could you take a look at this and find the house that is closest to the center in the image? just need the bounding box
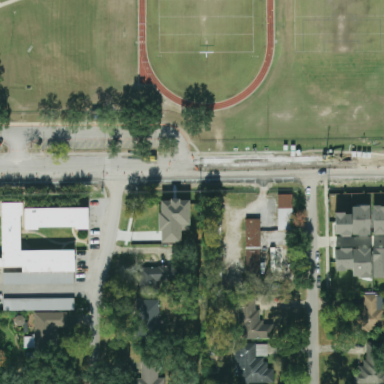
[160,198,190,243]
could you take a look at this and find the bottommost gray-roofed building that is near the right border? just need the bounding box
[357,338,384,384]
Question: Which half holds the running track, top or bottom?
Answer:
top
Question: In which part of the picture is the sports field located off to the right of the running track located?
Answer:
top right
